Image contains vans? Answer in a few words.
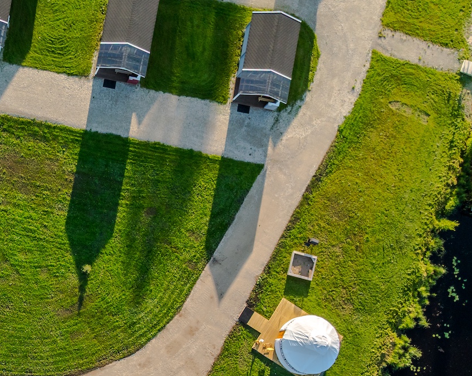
No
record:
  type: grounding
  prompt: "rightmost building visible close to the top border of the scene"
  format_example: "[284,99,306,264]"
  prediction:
[231,8,302,112]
